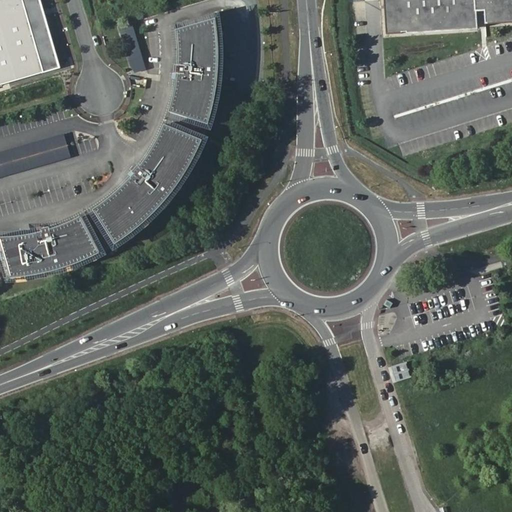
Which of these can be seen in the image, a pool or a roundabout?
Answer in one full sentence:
The one in the frame is a roundabout.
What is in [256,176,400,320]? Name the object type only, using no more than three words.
roundabout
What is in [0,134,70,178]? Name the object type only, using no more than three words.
shed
